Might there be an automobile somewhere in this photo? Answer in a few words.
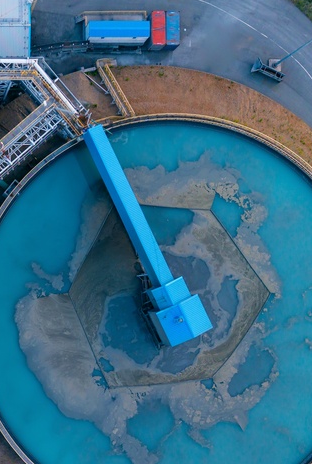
No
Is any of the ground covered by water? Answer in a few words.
Yes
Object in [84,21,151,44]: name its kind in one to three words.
shed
